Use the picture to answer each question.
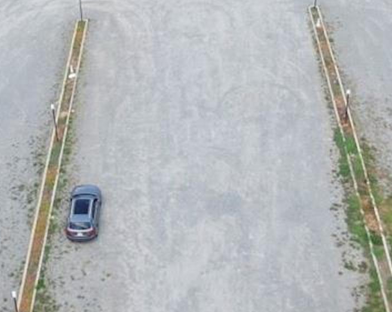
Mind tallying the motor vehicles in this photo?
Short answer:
one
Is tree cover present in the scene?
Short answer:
No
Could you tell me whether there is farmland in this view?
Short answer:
No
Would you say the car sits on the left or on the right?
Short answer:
left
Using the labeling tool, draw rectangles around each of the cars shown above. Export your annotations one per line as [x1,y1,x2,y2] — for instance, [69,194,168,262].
[64,181,101,238]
